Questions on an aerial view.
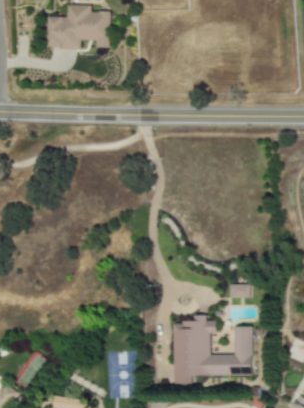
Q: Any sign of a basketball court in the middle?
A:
No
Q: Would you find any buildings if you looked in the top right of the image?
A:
No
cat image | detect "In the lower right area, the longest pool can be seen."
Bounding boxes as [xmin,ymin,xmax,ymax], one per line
[228,306,258,323]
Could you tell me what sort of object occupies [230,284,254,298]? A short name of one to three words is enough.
building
